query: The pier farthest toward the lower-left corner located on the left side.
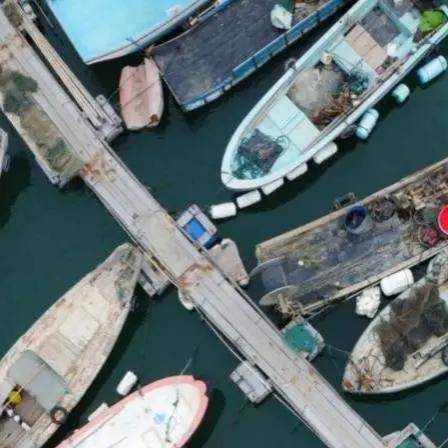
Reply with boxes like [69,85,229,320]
[140,255,173,297]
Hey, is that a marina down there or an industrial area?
marina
